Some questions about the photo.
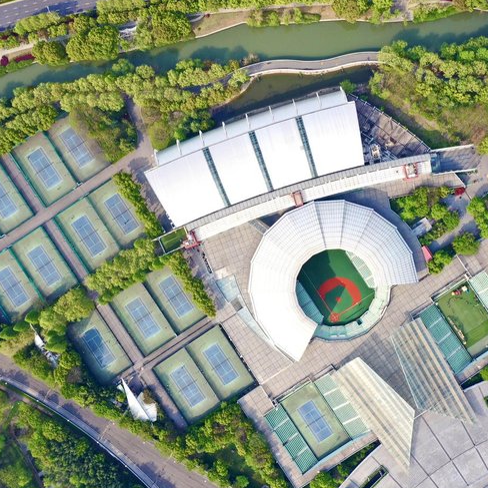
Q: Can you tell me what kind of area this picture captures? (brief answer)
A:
sports ground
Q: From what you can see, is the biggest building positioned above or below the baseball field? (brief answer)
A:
above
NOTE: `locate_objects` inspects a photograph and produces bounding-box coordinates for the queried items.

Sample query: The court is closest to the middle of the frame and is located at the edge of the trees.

[144,262,207,334]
